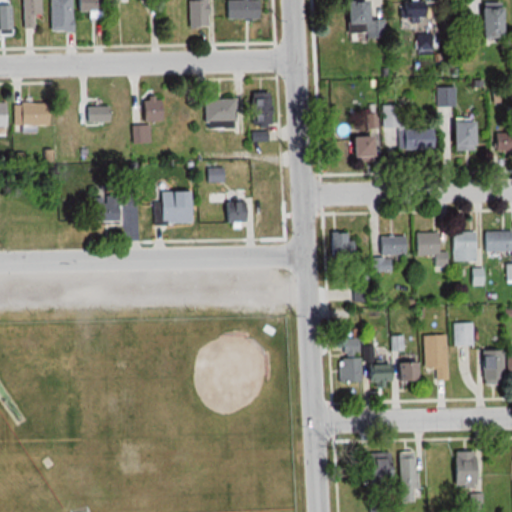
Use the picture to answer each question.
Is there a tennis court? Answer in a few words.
No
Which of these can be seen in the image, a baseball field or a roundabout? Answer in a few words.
baseball field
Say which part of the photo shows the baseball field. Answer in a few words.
bottom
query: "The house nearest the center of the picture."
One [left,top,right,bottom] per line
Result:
[226,196,248,230]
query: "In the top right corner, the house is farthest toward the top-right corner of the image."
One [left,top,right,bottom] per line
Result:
[485,0,508,38]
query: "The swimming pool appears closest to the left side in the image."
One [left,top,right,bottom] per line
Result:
[337,123,352,138]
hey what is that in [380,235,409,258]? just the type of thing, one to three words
house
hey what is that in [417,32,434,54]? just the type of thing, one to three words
building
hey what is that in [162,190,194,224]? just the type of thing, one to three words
house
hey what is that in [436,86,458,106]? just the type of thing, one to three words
building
